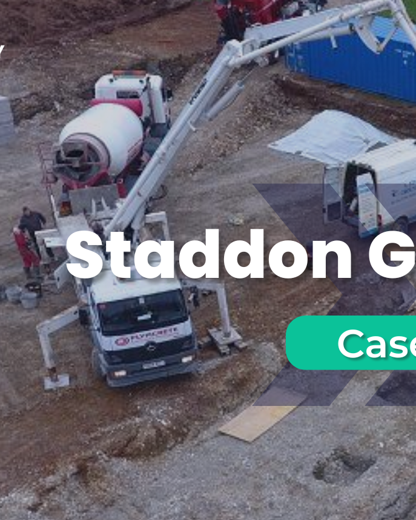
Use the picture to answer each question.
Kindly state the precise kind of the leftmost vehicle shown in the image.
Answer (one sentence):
Looking closely, the leftmost vehicle is a truck.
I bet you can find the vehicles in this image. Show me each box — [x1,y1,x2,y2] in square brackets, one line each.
[200,0,313,40]
[322,138,416,245]
[30,0,416,385]
[27,66,195,214]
